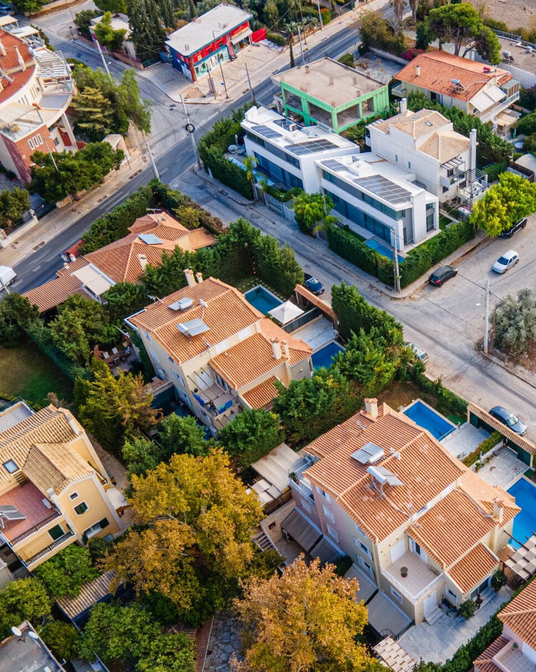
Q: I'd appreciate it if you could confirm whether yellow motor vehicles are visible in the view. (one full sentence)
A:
No, no yellow motor vehicle is visible in the scene.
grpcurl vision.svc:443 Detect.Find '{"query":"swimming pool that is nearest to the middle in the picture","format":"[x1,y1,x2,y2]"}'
[242,281,289,313]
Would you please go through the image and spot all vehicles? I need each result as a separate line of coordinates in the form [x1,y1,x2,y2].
[498,213,531,239]
[406,339,436,366]
[299,271,330,299]
[490,248,523,274]
[484,399,532,438]
[2,4,14,14]
[427,265,459,287]
[0,258,22,289]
